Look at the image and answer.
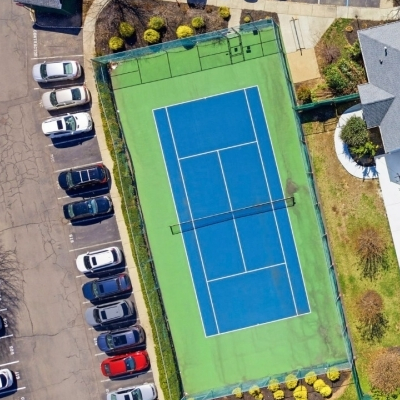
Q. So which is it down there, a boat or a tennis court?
tennis court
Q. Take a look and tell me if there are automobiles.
Yes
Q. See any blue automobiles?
Yes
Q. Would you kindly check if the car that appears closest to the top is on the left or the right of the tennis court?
to its left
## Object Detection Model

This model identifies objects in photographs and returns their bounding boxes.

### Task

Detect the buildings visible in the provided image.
[12,0,79,16]
[357,20,400,153]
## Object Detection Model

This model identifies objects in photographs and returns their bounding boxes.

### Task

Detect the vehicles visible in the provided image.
[98,326,148,354]
[77,248,124,273]
[34,59,84,83]
[99,350,151,377]
[62,196,114,221]
[43,88,92,110]
[87,299,137,327]
[83,273,134,301]
[41,111,93,137]
[58,164,112,191]
[0,369,18,392]
[105,382,158,400]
